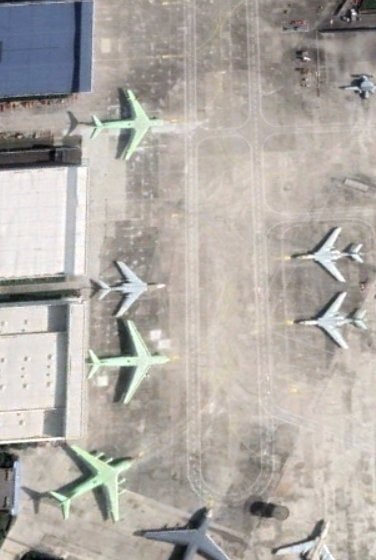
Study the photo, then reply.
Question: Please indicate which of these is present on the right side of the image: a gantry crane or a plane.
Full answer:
The feature located on the right side of the image is a plane.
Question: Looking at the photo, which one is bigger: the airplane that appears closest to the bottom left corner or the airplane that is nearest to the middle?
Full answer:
Compared with the airplane that is nearest to the middle, the airplane that appears closest to the bottom left corner is the bigger one.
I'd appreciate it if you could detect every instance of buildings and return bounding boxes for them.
[0,0,93,99]
[0,461,20,517]
[0,297,85,442]
[0,163,87,279]
[0,149,50,163]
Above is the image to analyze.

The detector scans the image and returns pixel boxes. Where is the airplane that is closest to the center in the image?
[95,262,164,316]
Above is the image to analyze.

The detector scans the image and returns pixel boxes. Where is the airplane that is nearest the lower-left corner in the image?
[48,445,134,522]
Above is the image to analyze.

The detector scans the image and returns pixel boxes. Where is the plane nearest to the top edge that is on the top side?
[345,74,376,97]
